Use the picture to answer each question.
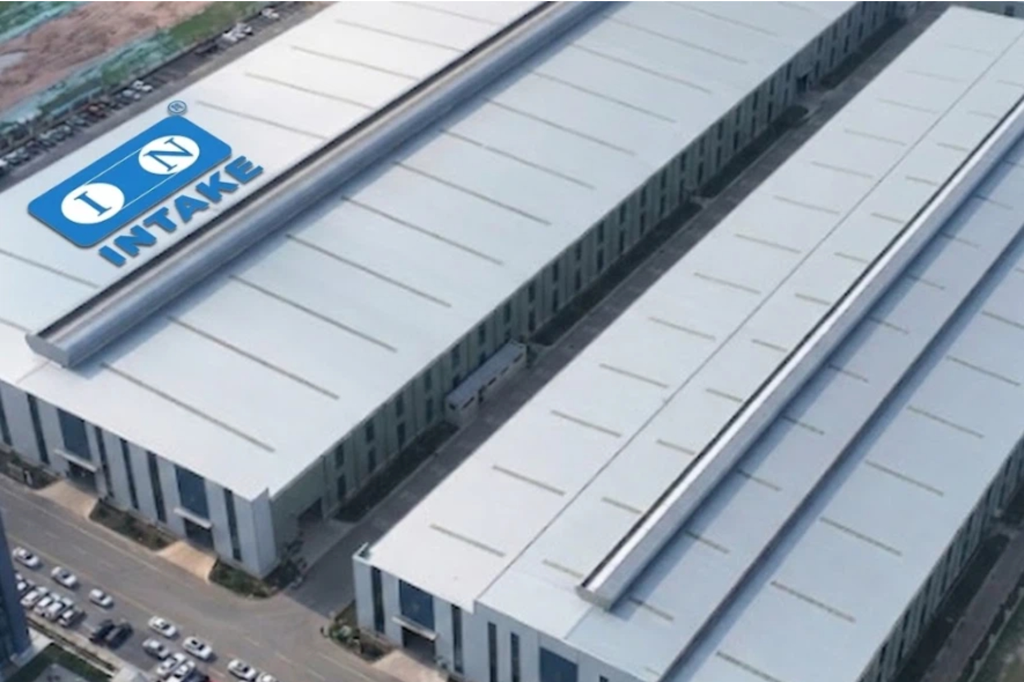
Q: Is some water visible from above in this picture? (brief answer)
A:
No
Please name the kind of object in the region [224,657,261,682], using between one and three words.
car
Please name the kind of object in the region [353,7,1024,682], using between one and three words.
building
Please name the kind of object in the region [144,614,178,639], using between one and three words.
car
